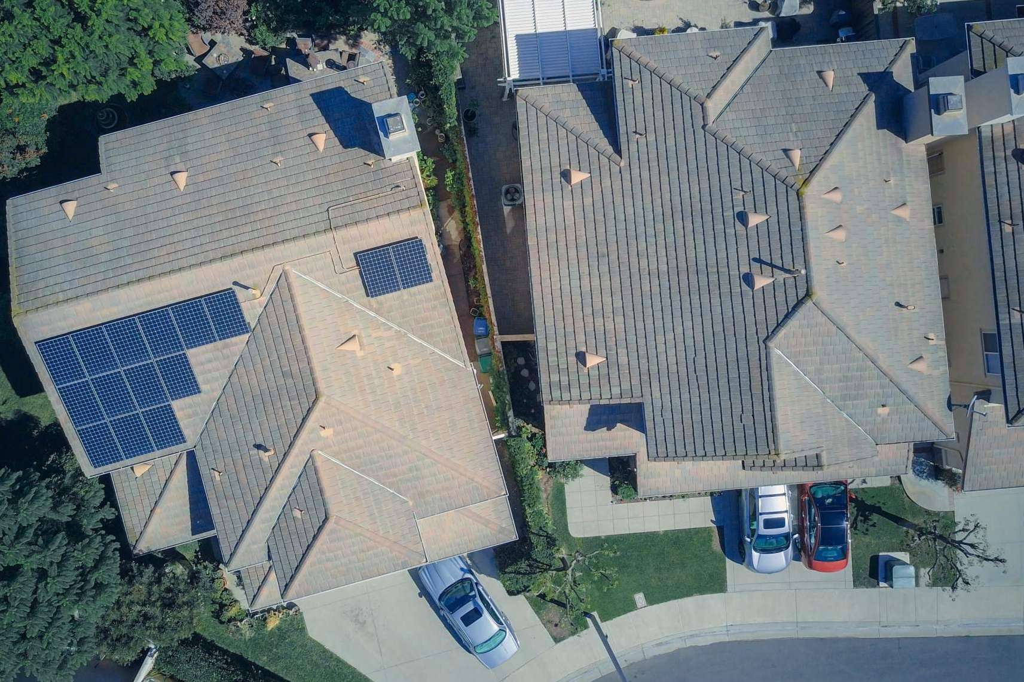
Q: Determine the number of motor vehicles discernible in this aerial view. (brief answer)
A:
3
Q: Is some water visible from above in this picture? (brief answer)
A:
No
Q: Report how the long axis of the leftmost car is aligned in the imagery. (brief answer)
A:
diagonally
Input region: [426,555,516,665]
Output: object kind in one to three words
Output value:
car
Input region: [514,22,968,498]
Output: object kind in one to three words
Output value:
house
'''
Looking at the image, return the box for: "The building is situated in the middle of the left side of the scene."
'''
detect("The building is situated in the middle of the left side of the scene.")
[4,59,520,613]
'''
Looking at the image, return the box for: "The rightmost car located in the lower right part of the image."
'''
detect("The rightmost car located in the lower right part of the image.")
[796,480,853,573]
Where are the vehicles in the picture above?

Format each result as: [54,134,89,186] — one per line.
[740,485,798,575]
[796,480,853,573]
[426,555,516,665]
